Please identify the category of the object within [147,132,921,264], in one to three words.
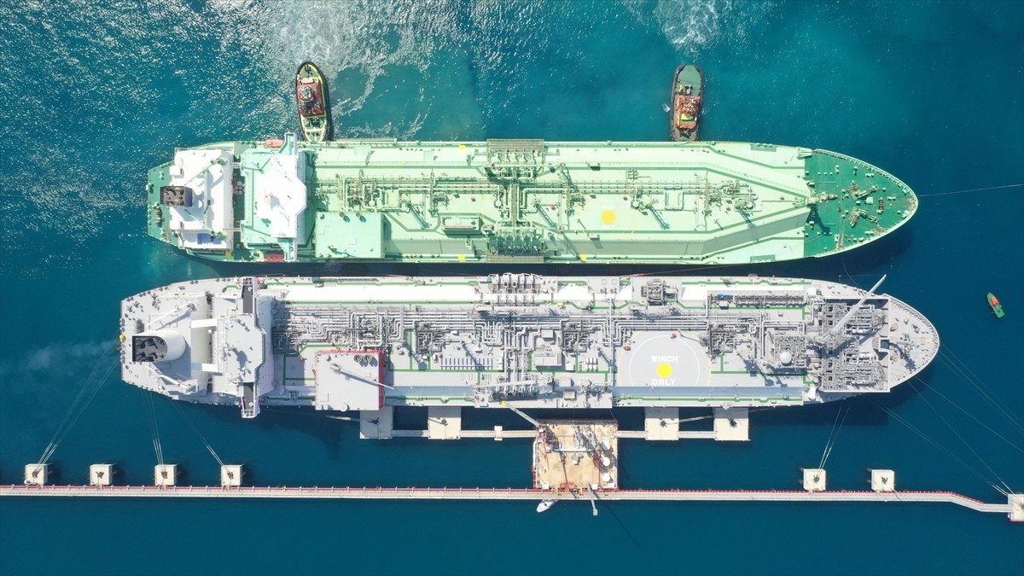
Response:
ship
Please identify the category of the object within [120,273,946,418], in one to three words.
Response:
ship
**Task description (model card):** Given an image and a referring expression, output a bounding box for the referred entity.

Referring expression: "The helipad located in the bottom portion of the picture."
[619,330,710,386]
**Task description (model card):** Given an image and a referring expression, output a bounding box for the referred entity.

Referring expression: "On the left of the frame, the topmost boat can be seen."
[296,62,332,140]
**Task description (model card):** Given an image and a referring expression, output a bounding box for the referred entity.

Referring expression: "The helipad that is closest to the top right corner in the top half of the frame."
[579,192,637,240]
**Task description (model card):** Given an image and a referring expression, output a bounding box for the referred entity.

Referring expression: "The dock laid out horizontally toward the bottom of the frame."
[0,482,1007,513]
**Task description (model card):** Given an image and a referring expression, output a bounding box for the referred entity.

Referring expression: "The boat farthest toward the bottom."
[537,500,558,512]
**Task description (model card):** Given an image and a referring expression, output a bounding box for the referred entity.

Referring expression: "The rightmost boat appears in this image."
[988,293,1005,318]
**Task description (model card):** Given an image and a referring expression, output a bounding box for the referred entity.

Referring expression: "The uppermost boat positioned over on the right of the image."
[669,64,704,141]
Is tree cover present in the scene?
No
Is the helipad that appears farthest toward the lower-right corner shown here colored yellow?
No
